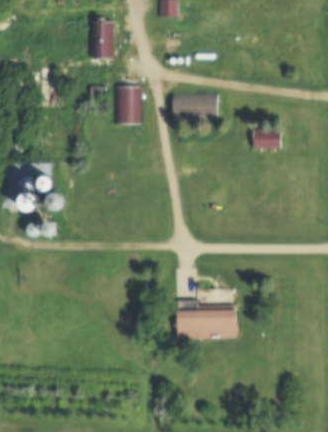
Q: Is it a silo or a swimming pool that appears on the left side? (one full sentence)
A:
The feature located on the left side is a silo.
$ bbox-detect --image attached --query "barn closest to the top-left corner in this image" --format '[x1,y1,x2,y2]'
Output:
[92,15,114,58]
